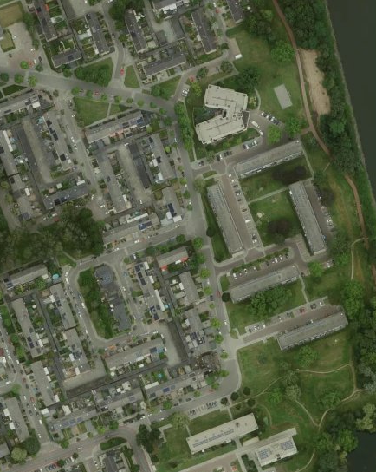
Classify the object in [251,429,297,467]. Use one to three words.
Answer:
building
